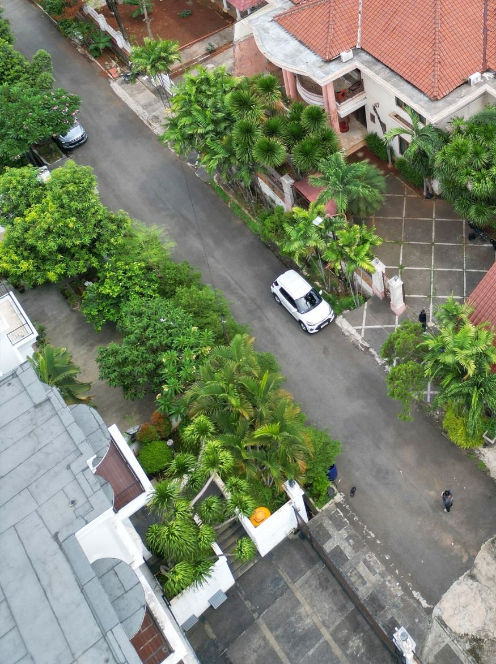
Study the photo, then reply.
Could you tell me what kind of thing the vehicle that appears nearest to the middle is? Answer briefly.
automobile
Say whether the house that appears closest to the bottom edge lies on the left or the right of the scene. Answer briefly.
left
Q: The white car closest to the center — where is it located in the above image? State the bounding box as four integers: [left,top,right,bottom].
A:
[269,268,336,335]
